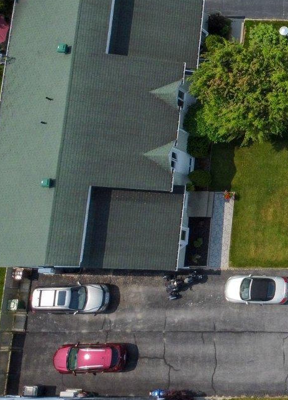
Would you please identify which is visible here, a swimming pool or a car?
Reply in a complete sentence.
Visible in the photo is a car.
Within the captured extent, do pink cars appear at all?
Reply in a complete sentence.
Yes, there's a pink car here.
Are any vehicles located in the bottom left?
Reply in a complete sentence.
Yes, you'll find a vehicle in the bottom left.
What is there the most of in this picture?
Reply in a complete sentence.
What you mostly see from above here is buildings.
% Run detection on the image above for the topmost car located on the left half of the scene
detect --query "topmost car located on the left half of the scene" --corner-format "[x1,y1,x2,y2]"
[30,279,115,317]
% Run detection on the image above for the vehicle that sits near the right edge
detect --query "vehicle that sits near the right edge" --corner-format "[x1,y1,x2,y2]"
[224,271,288,307]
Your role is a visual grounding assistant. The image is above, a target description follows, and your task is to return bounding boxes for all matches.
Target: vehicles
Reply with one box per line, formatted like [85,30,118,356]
[30,279,115,317]
[52,340,131,377]
[163,270,179,304]
[172,271,208,290]
[224,271,288,307]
